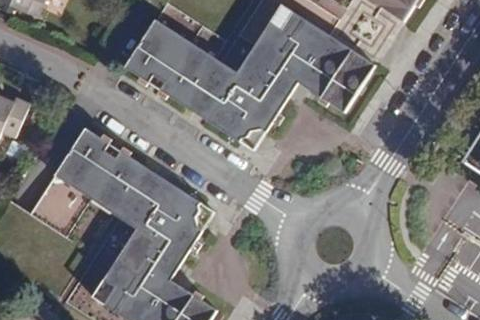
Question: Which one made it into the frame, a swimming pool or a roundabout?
roundabout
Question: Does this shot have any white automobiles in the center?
Yes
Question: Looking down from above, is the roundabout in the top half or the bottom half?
bottom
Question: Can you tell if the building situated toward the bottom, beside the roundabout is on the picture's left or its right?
left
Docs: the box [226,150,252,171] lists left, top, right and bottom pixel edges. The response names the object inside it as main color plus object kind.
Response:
white vehicle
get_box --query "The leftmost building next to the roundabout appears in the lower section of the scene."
[30,127,218,320]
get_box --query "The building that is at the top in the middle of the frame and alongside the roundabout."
[126,2,378,140]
